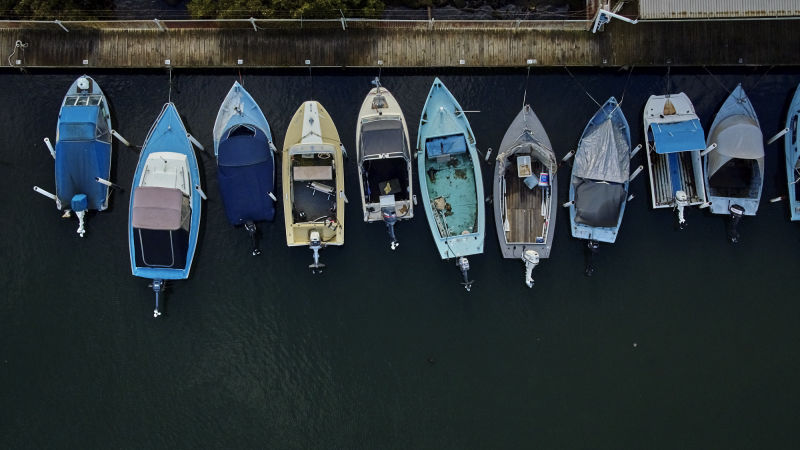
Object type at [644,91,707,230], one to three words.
boat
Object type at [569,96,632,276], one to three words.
boat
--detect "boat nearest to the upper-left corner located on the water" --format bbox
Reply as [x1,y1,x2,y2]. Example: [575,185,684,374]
[54,74,113,239]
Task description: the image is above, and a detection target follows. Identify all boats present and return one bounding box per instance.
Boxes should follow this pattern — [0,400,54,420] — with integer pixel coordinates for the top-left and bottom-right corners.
[569,96,632,276]
[493,102,559,289]
[128,102,202,318]
[212,80,275,256]
[356,77,413,248]
[54,74,113,239]
[281,100,345,277]
[783,83,800,220]
[414,77,485,292]
[705,84,765,245]
[644,91,707,230]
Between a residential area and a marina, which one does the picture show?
marina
